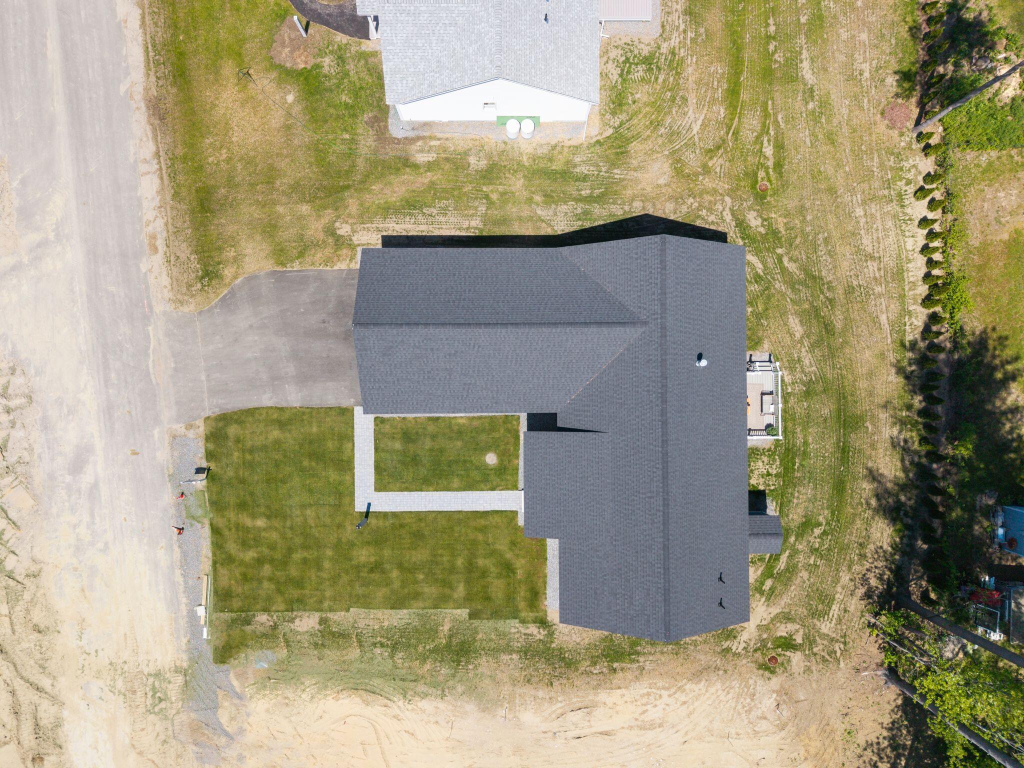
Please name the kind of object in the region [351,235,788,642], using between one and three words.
house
